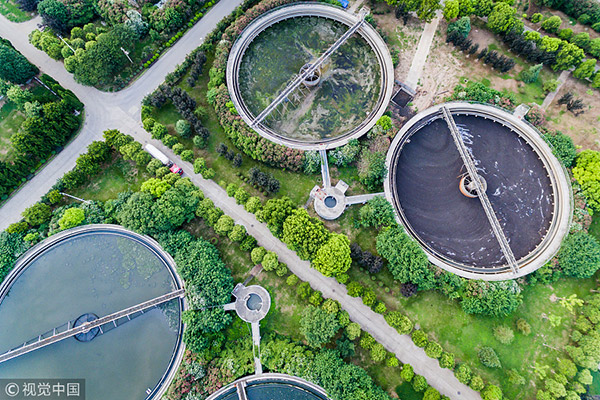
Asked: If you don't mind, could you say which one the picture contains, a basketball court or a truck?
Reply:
truck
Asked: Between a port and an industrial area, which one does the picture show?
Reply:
industrial area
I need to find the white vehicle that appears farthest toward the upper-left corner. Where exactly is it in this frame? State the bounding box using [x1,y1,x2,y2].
[146,145,188,177]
